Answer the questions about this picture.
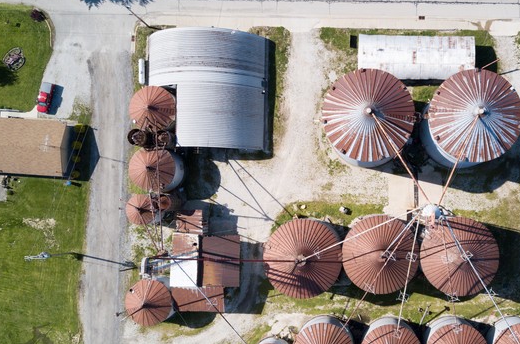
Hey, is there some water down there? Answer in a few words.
No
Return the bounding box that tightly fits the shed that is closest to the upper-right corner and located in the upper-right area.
[353,32,478,81]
